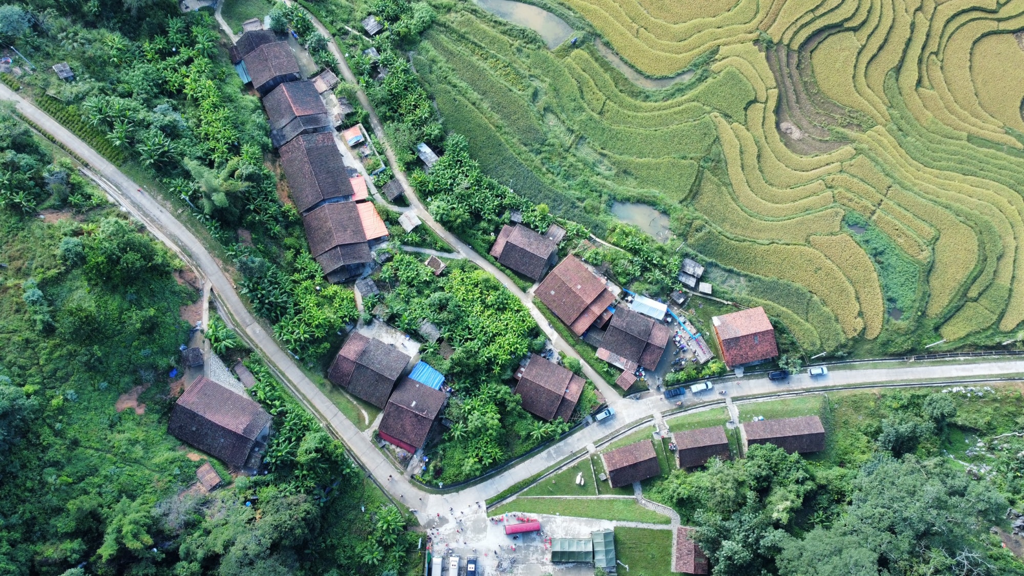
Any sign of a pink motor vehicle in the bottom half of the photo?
Yes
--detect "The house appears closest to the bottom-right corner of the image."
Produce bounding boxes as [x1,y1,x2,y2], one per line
[743,414,826,454]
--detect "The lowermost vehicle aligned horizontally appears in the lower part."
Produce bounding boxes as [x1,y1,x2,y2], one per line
[501,519,543,538]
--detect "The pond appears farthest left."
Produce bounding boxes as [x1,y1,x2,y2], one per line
[478,0,573,49]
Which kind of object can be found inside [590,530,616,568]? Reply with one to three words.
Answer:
tent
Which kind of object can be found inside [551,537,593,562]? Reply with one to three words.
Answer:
tent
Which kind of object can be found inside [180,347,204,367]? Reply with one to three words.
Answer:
shed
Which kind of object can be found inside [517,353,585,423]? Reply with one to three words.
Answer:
house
